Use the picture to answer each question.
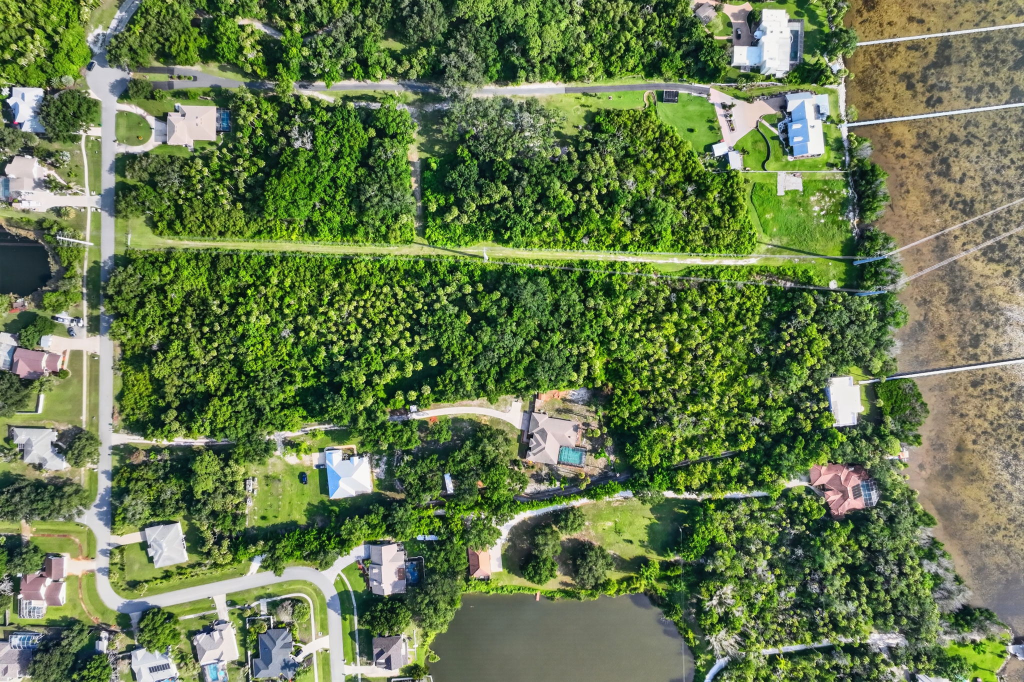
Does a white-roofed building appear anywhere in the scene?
Yes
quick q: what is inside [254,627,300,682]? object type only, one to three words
house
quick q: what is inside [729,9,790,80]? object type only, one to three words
house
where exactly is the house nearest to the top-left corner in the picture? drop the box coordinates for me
[7,87,48,133]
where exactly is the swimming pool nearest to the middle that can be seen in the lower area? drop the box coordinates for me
[559,447,583,463]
